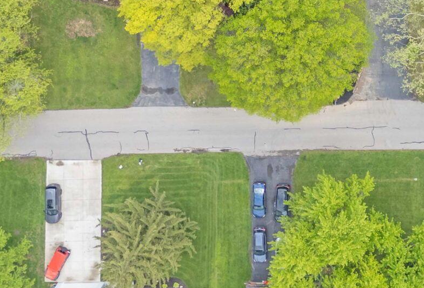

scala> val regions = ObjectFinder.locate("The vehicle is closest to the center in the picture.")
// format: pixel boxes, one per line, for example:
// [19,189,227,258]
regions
[249,183,267,220]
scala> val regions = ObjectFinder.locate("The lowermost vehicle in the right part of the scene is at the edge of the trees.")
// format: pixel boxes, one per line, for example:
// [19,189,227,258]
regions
[250,228,268,265]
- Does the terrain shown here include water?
No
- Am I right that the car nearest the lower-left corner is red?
Yes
